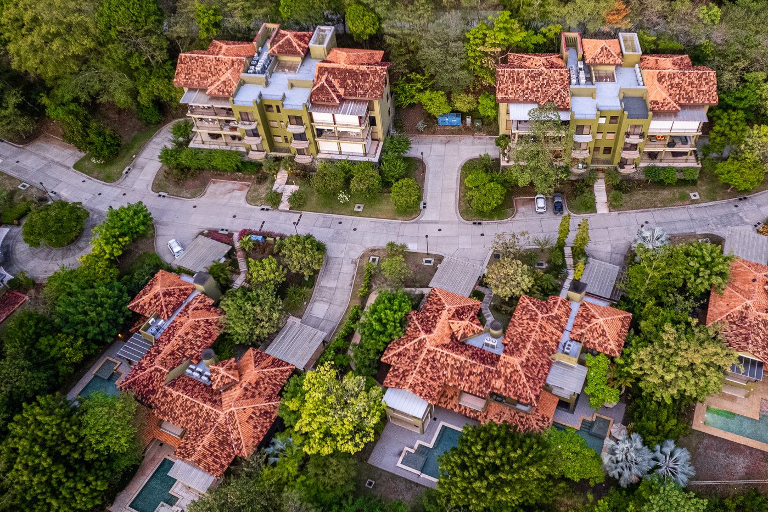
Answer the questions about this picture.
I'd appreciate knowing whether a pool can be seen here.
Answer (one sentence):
Yes, there is a pool in the image.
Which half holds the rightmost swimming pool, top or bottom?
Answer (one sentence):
You can find the rightmost swimming pool in the bottom half.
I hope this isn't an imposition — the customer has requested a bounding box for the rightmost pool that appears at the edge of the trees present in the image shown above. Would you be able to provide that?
[693,401,768,452]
